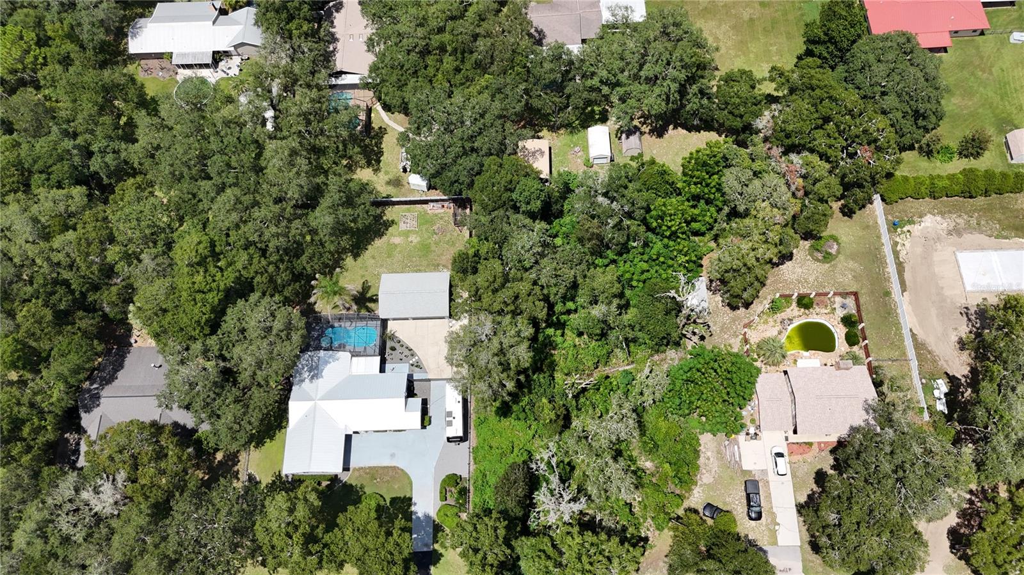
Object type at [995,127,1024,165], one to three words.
shed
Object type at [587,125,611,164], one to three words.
shed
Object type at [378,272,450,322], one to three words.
building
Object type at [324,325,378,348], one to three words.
swimming pool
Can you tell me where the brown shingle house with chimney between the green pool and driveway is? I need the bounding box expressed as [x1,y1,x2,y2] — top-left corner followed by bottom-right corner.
[752,358,880,439]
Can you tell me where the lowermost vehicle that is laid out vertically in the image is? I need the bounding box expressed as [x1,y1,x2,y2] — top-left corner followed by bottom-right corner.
[744,478,764,523]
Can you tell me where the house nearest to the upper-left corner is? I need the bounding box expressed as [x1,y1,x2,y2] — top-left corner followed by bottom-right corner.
[128,0,270,71]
